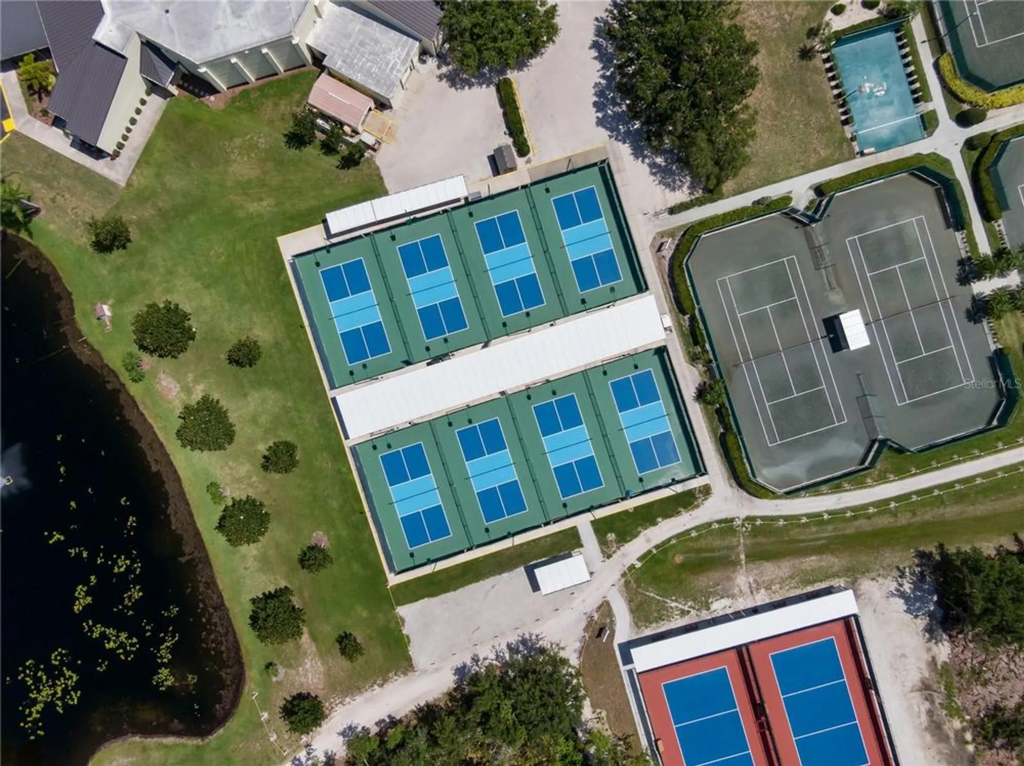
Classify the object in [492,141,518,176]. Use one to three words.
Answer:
shed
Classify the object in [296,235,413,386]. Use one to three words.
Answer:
sports court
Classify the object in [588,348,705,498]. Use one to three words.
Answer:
sports court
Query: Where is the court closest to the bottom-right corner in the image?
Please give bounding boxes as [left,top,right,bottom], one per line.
[744,616,897,766]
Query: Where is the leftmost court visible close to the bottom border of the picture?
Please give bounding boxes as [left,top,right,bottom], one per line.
[638,645,778,766]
